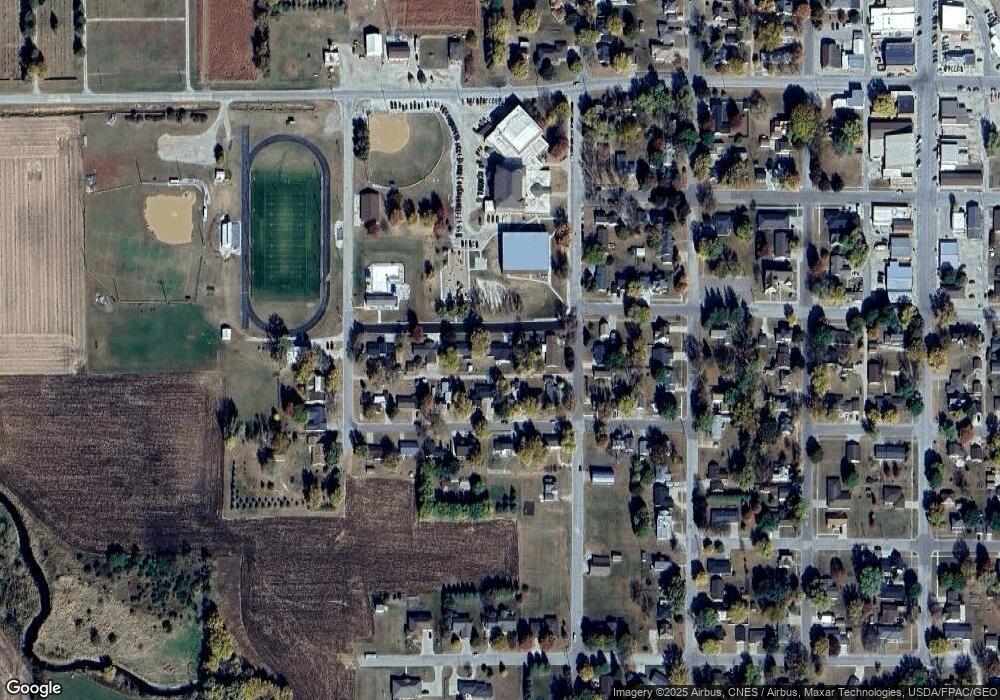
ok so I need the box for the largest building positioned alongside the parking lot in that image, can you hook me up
[485,105,551,214]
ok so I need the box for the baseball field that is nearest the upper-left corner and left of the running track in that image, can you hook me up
[145,191,195,244]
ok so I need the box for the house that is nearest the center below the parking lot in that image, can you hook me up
[490,342,513,364]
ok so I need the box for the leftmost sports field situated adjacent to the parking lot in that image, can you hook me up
[252,142,322,328]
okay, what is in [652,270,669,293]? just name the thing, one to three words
house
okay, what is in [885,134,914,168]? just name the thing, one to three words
building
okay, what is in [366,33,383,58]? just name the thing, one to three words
barn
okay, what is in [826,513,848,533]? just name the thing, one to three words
house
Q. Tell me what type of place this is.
residential area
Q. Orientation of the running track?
vertically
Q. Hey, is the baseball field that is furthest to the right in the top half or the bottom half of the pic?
top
